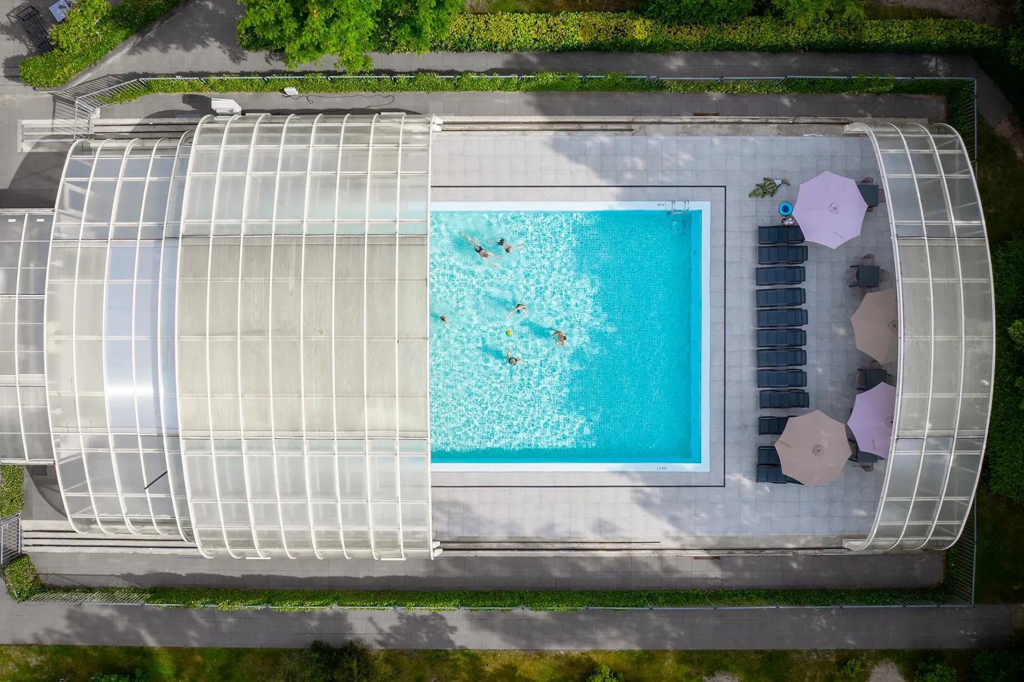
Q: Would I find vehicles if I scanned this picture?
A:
No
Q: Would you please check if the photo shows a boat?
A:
No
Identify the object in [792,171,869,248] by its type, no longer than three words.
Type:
umbrella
